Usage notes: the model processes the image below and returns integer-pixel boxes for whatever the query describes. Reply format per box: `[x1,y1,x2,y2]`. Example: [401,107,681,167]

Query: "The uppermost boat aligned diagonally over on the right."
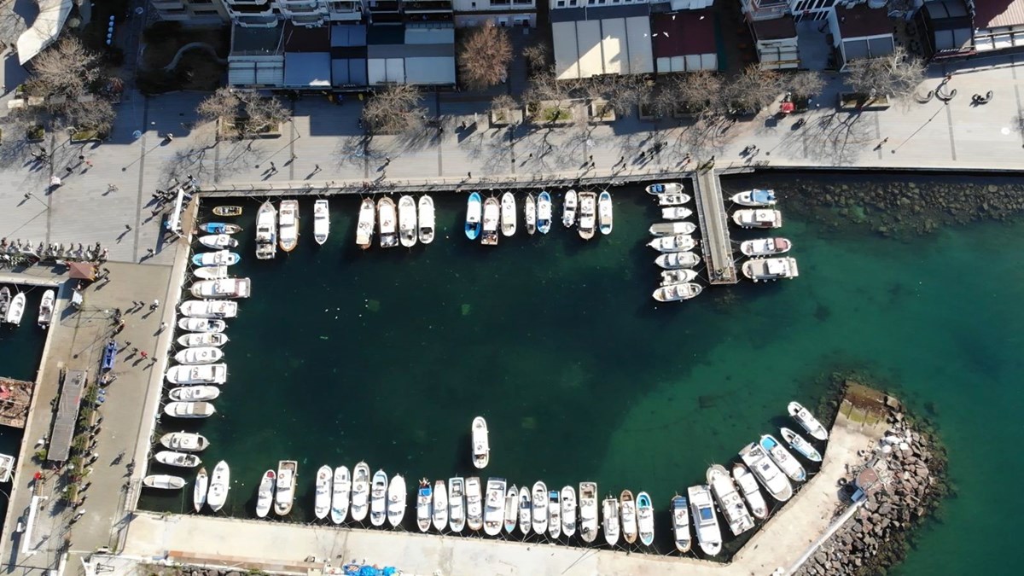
[788,402,833,445]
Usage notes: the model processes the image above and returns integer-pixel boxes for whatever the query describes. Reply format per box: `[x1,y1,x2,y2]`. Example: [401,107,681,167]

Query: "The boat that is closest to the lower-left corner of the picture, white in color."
[0,451,20,481]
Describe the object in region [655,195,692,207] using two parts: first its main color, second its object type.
white boat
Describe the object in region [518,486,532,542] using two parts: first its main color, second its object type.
white boat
